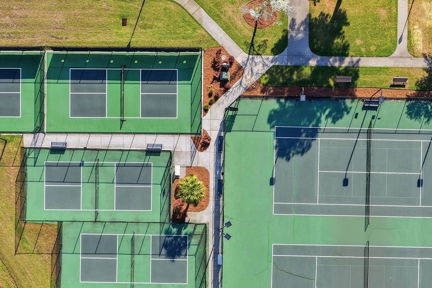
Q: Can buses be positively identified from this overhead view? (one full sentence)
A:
No, the scene contains no bus.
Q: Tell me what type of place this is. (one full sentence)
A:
The area seen from above is a sports ground.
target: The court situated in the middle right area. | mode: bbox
[221,100,432,229]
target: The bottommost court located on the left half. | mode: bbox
[60,222,208,288]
